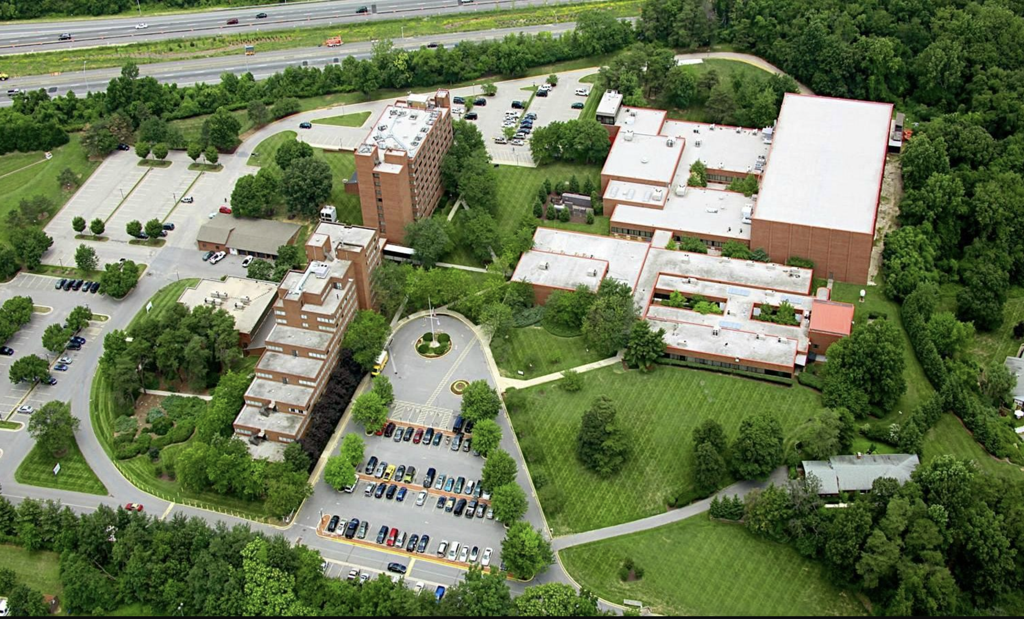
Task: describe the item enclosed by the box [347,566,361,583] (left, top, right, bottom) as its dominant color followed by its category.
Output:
white car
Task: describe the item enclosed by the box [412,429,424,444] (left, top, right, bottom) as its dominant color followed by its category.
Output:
red vehicle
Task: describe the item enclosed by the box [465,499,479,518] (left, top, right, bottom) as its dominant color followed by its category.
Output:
gray vehicle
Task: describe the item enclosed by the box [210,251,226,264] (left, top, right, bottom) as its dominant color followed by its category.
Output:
white vehicle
